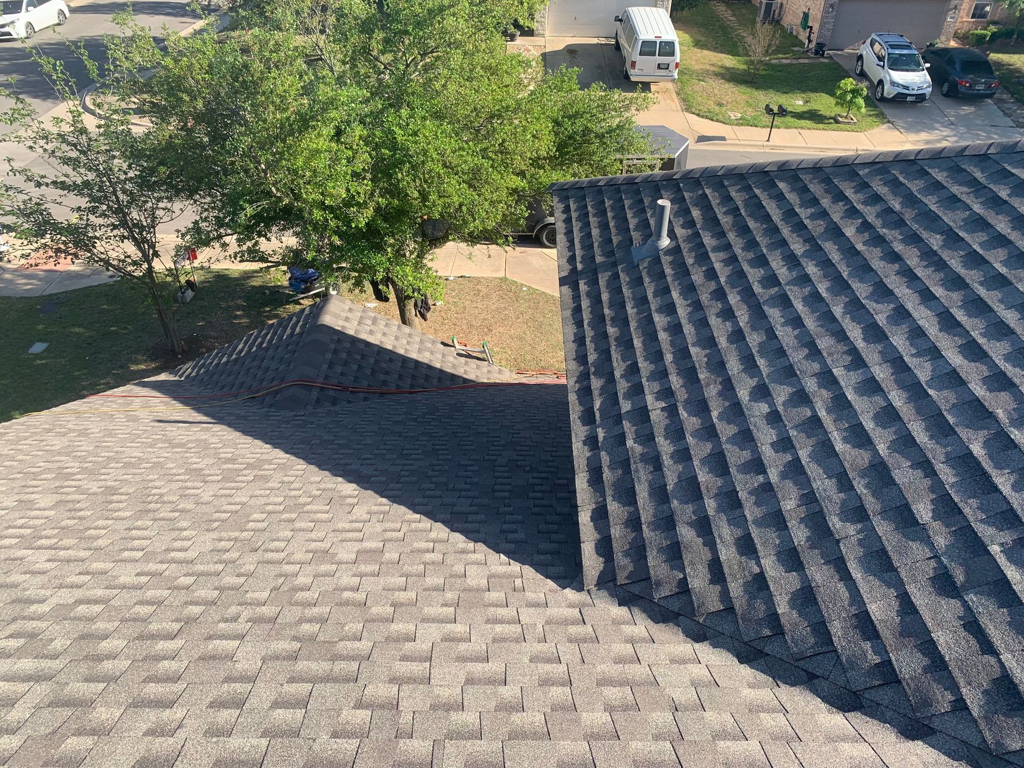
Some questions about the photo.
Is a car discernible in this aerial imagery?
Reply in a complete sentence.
Yes, a car can be made out from above.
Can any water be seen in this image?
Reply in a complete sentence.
No, no water is visible.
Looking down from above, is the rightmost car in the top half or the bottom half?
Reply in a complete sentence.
It is in the top half that the rightmost car appears.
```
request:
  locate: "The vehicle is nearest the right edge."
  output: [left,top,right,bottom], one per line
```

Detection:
[927,44,1014,98]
